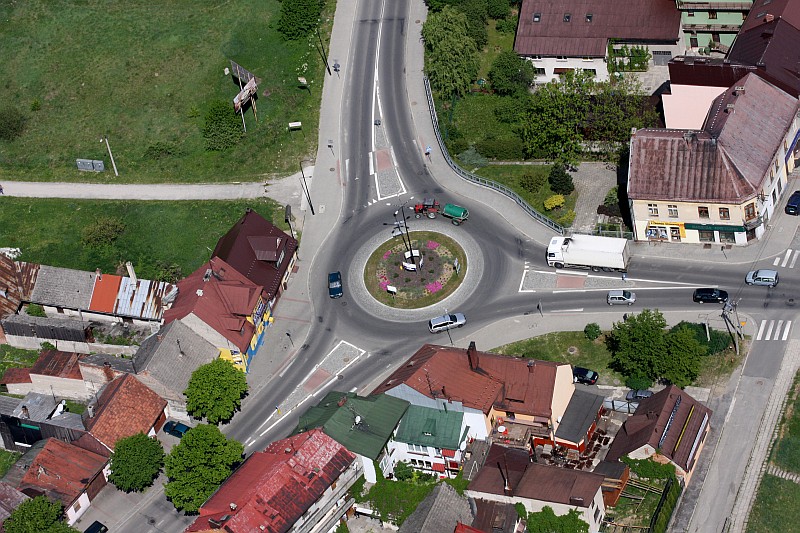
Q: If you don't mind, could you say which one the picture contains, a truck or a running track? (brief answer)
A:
truck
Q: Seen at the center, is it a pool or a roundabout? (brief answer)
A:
roundabout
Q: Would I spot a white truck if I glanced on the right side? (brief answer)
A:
Yes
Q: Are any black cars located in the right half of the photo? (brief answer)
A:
Yes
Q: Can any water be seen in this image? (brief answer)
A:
No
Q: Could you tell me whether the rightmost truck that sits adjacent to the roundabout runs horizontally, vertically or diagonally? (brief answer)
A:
horizontally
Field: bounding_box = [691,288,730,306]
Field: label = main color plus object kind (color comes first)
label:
black car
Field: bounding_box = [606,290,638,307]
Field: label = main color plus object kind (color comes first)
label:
gray car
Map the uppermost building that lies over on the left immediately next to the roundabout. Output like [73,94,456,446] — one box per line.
[203,202,302,307]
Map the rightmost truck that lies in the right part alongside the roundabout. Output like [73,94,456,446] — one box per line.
[545,231,631,271]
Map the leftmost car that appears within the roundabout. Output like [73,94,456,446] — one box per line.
[327,271,344,302]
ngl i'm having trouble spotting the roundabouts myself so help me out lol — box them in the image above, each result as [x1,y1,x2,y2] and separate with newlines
[310,184,535,361]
